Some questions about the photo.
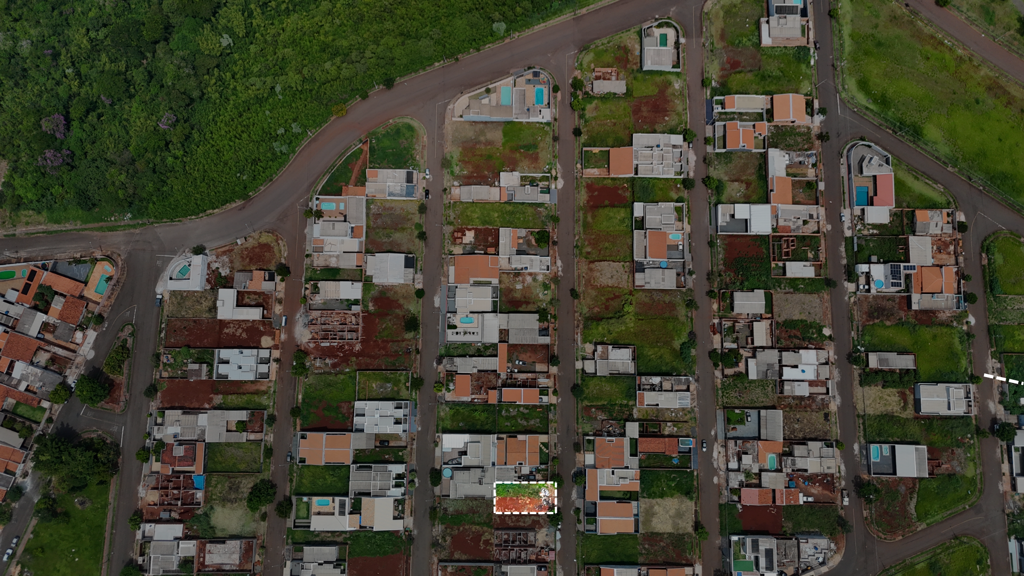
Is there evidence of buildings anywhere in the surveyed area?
Yes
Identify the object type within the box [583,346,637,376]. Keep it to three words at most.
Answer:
house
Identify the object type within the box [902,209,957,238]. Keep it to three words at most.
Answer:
house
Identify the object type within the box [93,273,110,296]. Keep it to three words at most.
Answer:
swimming pool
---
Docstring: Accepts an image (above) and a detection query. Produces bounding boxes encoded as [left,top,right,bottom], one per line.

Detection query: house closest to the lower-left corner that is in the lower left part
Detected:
[0,428,34,502]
